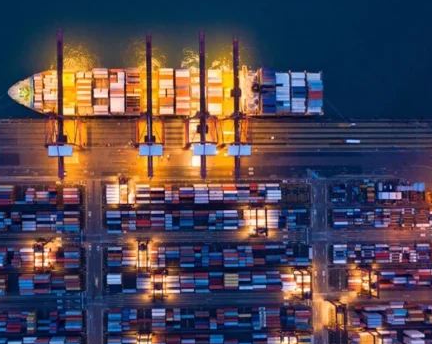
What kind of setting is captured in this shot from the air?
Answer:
port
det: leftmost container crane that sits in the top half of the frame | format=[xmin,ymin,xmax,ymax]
[44,31,84,181]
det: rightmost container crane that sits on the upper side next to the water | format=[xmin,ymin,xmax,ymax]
[212,36,253,181]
